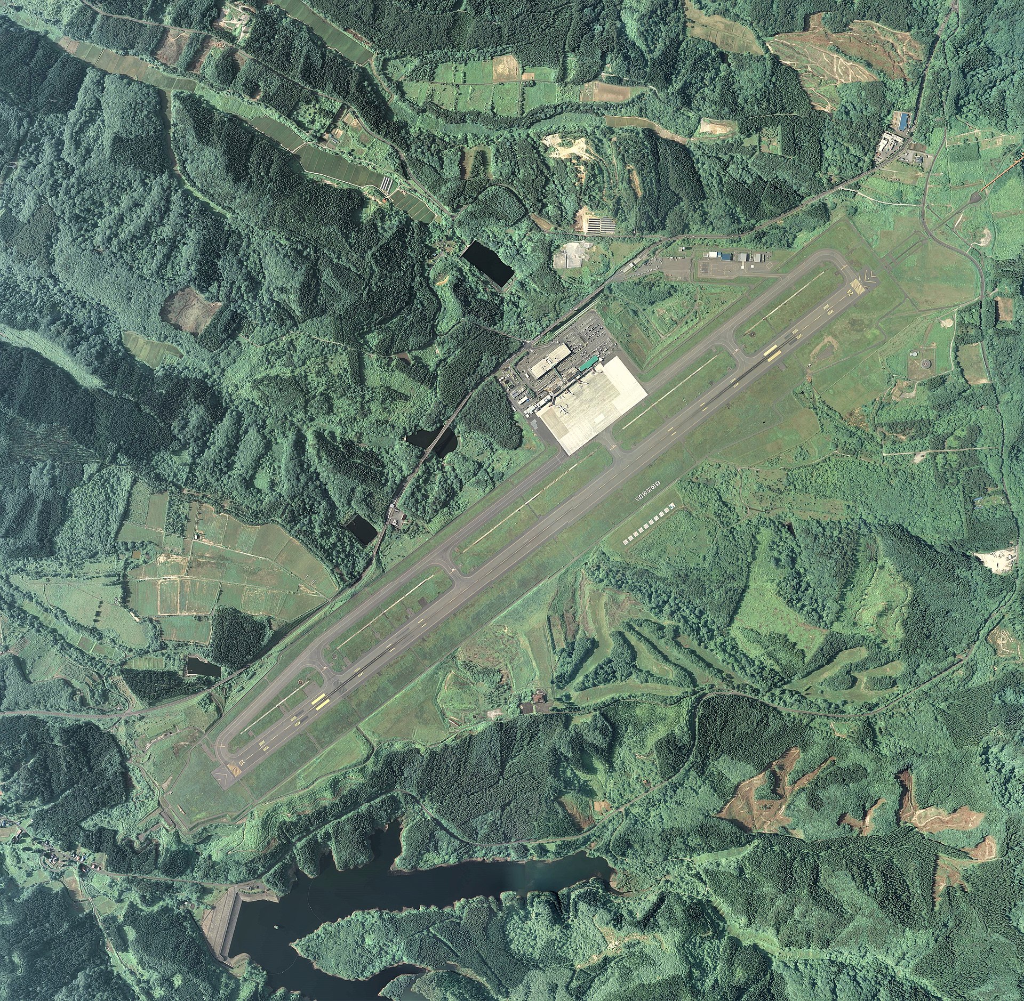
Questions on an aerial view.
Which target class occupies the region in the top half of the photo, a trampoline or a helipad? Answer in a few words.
helipad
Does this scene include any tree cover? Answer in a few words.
Yes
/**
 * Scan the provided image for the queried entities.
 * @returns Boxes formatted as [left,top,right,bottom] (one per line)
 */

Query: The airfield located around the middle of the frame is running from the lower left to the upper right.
[197,248,881,806]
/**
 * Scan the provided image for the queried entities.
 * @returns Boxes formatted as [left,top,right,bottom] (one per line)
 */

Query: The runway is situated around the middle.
[212,265,881,790]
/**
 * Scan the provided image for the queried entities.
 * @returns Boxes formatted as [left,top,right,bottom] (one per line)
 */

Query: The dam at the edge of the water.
[206,885,281,966]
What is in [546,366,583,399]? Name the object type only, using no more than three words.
building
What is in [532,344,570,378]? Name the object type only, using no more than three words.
building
